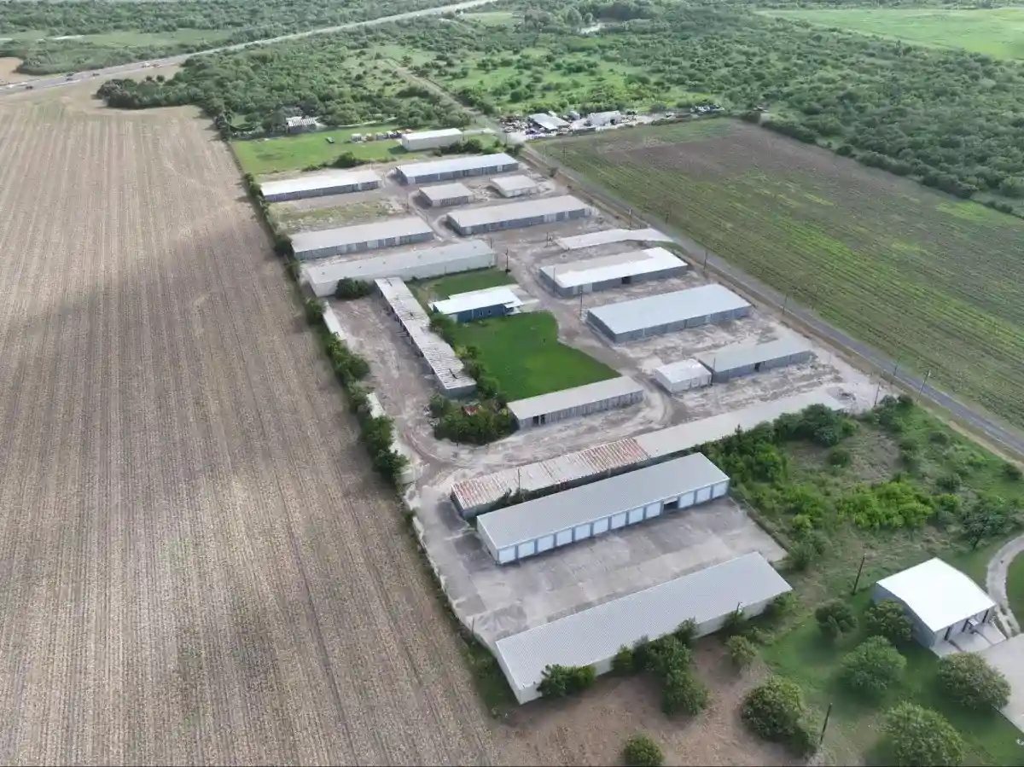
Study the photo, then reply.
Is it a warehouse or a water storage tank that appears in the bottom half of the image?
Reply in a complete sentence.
The one visible in the bottom half of the image is a warehouse.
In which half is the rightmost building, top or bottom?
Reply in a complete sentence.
It is in the bottom half that the rightmost building appears.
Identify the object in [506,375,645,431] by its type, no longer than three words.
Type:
shed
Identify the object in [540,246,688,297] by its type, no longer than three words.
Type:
building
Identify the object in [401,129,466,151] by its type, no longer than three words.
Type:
building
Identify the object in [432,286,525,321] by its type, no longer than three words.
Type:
house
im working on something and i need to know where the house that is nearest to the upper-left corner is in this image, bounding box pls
[285,115,318,132]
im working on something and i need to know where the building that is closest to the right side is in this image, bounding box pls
[874,557,1000,655]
